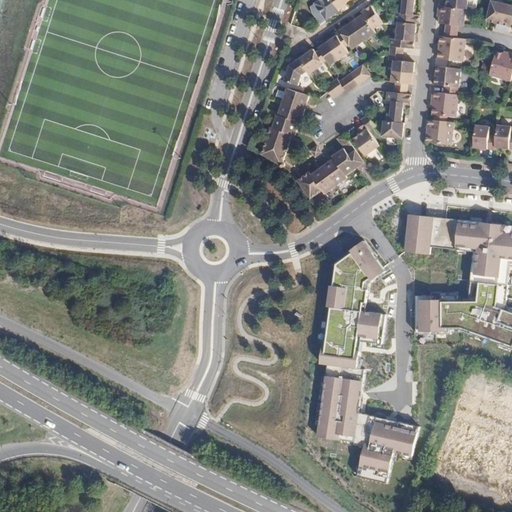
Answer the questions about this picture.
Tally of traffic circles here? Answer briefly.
1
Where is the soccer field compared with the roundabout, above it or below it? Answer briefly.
above it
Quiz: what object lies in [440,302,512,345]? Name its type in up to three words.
building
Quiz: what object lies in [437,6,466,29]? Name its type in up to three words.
house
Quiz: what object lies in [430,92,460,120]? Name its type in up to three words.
house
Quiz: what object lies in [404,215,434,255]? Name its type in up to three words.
building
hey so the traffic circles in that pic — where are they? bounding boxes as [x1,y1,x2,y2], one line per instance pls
[182,216,248,282]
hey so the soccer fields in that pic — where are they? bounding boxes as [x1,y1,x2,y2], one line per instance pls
[0,0,228,212]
